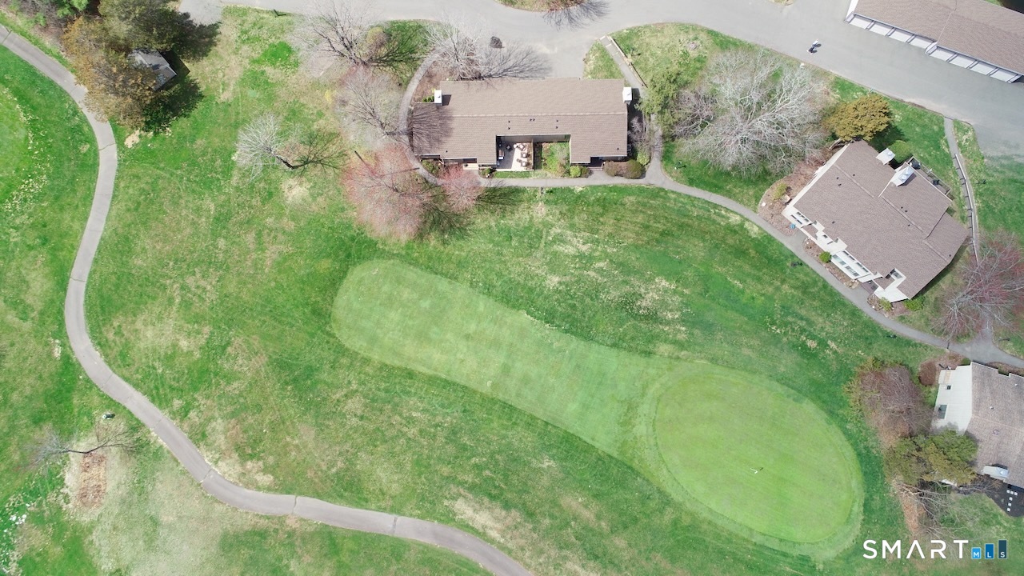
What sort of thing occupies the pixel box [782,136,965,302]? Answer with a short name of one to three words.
house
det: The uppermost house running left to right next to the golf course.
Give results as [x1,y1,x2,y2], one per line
[412,79,632,171]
